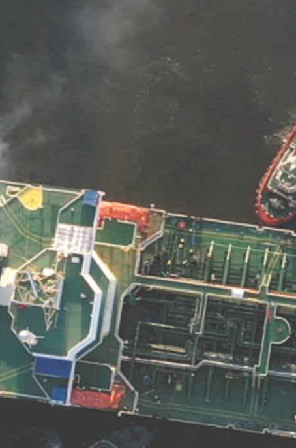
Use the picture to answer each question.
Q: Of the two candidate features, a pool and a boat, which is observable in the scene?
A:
boat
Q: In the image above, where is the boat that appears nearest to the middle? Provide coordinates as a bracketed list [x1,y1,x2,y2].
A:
[102,201,150,227]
